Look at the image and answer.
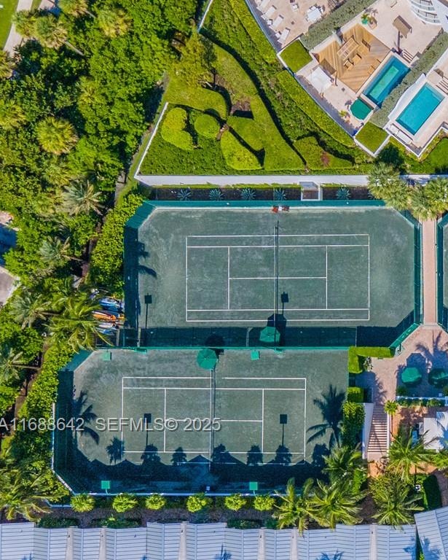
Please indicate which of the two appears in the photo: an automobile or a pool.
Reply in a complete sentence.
The one in the frame is a pool.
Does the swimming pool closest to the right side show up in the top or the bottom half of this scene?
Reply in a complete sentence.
The top half of the photo is where the swimming pool closest to the right side is.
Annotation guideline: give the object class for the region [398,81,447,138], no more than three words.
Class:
swimming pool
